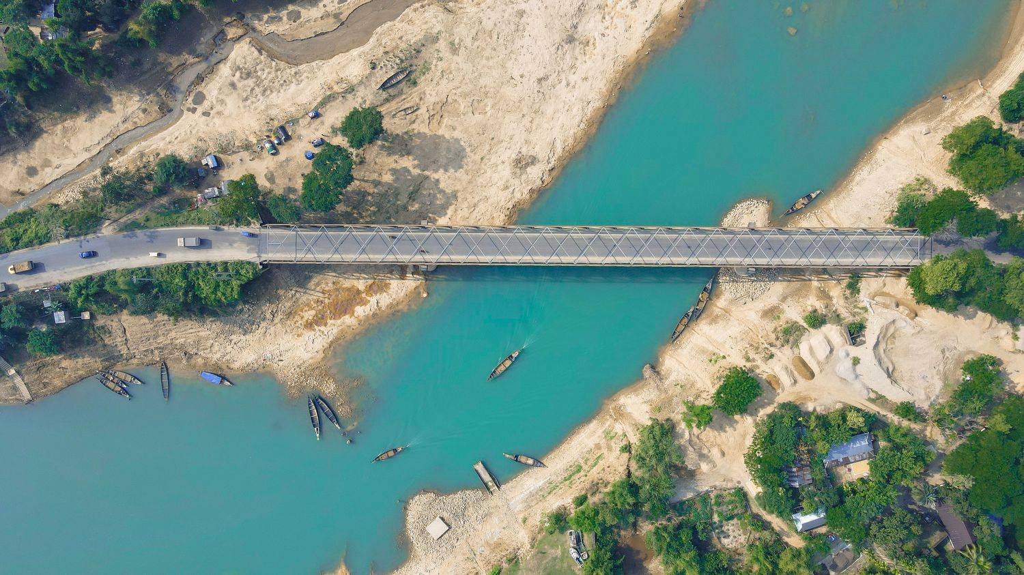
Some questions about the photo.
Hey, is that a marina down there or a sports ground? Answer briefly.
marina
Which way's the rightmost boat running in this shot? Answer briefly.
at an angle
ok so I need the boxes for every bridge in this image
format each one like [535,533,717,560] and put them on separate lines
[261,221,930,272]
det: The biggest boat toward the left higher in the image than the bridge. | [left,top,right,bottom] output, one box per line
[375,69,410,89]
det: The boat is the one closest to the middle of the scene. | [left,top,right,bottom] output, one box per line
[486,348,525,382]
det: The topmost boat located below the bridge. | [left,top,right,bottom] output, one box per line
[696,277,714,321]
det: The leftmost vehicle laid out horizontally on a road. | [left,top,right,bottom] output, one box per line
[6,261,32,275]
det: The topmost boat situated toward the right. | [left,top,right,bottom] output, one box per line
[786,190,823,215]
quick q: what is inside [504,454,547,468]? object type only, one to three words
boat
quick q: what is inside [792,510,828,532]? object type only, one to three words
house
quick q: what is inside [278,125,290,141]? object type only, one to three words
vehicle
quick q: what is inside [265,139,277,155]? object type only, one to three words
vehicle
